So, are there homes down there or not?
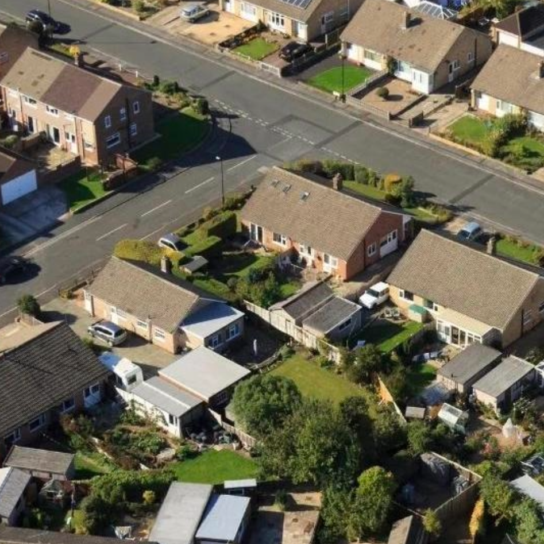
Yes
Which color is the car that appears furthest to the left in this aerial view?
black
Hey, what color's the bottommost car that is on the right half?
white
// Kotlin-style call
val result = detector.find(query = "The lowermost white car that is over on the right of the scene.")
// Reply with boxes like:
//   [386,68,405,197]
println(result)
[358,275,390,308]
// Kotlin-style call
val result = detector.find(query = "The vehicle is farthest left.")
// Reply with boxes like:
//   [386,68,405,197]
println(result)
[0,257,32,282]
